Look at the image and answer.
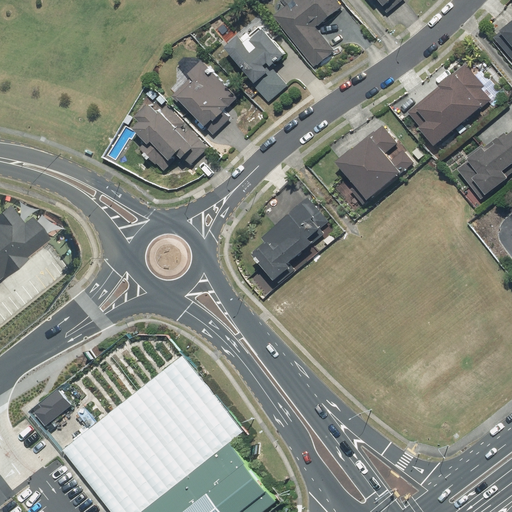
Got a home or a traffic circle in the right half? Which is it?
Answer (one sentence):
The one visible in the right half is a home.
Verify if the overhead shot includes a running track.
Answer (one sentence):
No, there isn't any running track down there.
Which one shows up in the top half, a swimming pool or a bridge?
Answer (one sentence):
There is a swimming pool in the top half.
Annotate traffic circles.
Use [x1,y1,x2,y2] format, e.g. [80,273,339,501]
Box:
[145,234,192,280]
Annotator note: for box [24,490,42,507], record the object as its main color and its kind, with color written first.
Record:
white vehicle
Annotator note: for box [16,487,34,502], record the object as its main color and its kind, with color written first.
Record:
white car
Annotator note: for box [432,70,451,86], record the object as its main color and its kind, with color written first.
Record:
white vehicle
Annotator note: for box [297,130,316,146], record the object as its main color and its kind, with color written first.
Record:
white car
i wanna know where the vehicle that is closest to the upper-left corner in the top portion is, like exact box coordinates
[198,160,216,180]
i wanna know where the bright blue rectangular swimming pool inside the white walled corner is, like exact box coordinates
[106,125,137,162]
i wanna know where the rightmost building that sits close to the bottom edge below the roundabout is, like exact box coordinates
[140,432,282,512]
